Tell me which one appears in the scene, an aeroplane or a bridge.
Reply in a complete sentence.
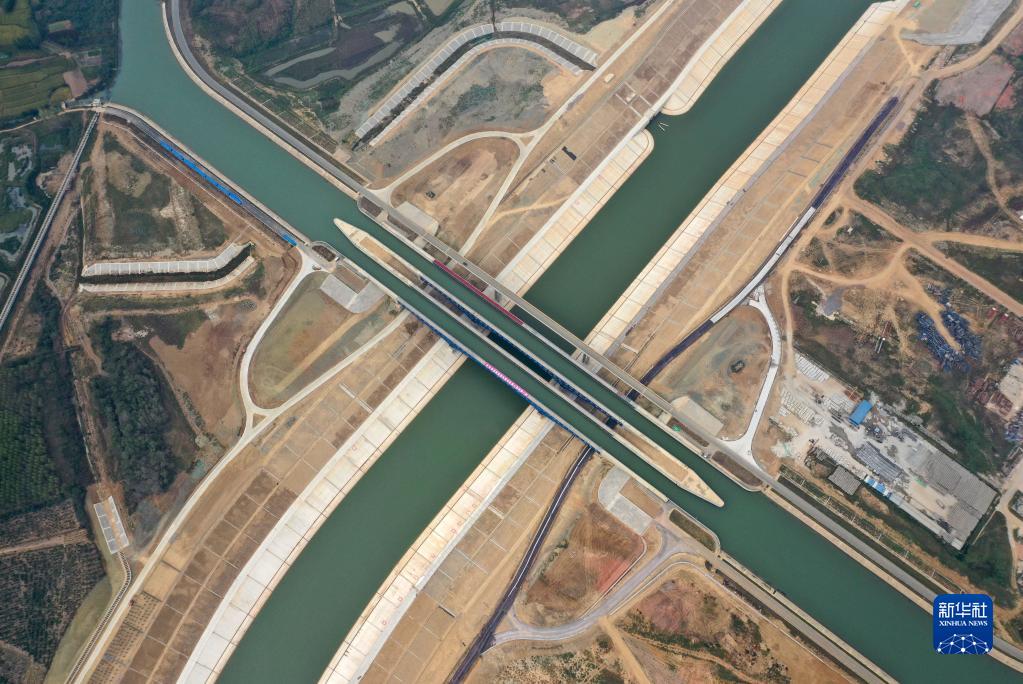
It is a bridge that can be seen here.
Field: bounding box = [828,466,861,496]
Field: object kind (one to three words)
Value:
shed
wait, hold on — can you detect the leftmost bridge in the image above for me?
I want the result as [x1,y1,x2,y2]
[0,112,100,333]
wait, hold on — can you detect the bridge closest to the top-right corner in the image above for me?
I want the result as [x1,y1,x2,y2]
[623,76,681,148]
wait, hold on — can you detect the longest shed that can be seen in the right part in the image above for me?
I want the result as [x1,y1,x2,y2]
[886,494,958,549]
